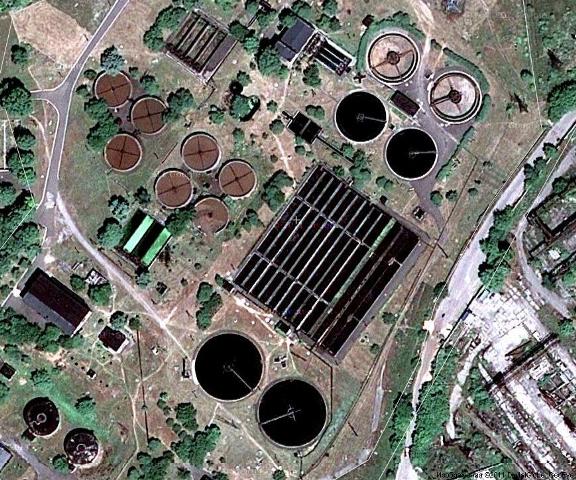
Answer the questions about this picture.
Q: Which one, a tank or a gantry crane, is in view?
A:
tank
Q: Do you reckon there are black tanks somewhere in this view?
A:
Yes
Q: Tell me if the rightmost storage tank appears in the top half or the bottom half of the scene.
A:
top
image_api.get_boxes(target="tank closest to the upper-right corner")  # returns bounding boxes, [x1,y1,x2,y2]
[429,70,482,123]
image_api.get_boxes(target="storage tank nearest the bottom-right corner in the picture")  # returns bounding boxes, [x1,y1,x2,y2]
[254,376,328,450]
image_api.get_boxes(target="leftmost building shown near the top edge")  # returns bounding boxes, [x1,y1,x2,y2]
[277,15,319,66]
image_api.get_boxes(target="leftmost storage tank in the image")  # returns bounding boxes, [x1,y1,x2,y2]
[22,399,60,436]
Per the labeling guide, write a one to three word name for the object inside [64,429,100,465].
storage tank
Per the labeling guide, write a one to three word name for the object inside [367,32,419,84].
storage tank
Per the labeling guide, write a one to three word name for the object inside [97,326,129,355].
shed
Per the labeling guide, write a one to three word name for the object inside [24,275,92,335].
building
